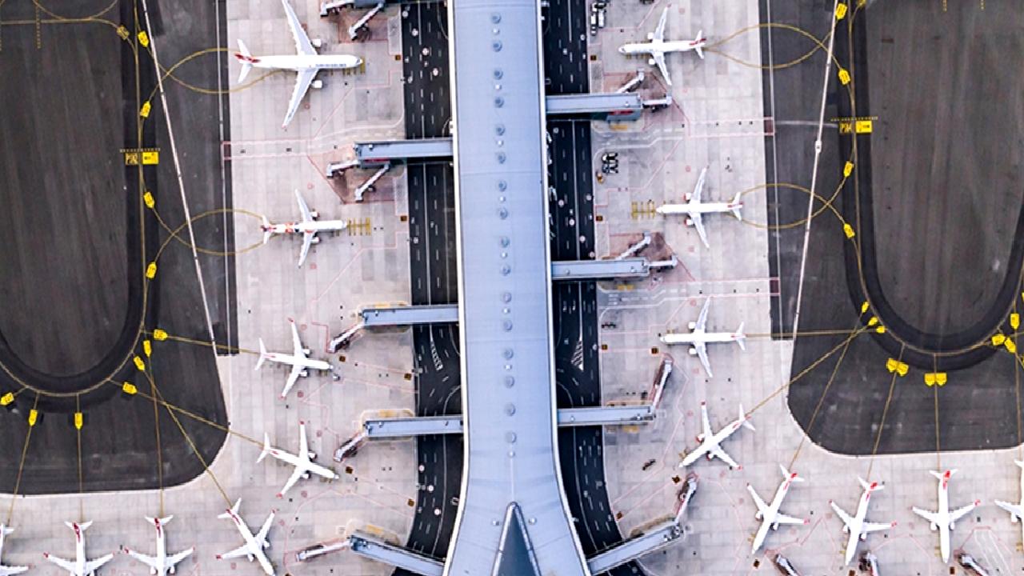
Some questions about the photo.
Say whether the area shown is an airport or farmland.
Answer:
airport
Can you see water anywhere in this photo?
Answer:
No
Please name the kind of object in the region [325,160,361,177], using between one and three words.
jet bridge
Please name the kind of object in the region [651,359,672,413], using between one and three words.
jet bridge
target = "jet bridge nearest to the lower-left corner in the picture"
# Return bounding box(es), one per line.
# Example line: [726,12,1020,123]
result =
[295,538,351,562]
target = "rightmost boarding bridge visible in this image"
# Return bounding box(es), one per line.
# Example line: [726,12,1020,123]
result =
[957,551,984,576]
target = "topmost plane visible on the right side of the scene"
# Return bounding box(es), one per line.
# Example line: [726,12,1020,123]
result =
[619,4,708,86]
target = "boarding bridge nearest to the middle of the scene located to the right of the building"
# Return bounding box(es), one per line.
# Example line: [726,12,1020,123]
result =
[613,230,651,259]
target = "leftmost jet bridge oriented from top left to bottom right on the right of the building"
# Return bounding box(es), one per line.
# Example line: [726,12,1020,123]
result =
[773,552,798,576]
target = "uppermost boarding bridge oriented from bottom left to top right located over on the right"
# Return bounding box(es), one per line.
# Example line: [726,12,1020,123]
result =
[615,67,646,93]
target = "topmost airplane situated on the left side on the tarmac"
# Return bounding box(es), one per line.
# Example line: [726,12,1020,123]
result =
[234,0,363,129]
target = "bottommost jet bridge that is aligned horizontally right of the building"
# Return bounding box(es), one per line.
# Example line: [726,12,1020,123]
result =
[648,253,678,268]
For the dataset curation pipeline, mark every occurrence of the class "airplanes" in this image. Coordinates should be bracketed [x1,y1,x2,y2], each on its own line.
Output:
[234,0,363,129]
[123,516,194,576]
[680,405,758,466]
[213,498,275,575]
[619,4,708,86]
[0,527,32,576]
[660,296,749,379]
[256,320,333,399]
[259,423,339,494]
[260,187,346,267]
[831,475,898,565]
[912,470,979,563]
[656,164,746,248]
[43,520,113,576]
[747,465,812,554]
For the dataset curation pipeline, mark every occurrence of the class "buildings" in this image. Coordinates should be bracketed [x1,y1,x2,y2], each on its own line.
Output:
[441,0,592,576]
